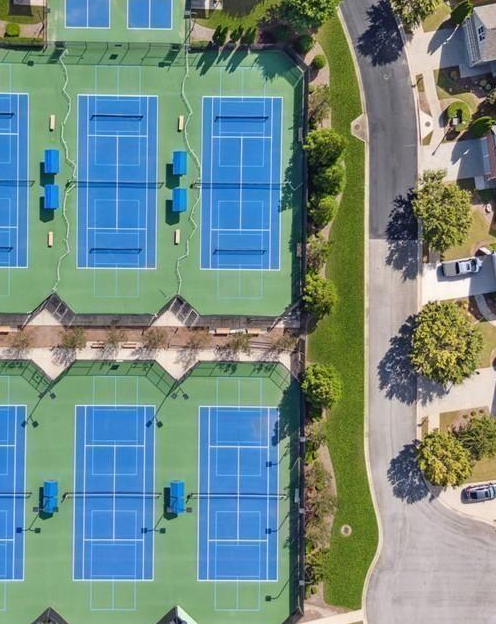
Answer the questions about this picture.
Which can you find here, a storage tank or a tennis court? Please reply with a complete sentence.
Of the two, only a tennis court appears.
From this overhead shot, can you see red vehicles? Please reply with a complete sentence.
No, the picture doesn't show any red vehicle.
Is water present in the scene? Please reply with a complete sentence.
No, no water is visible.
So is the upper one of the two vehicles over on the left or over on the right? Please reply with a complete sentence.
The upper one of the two vehicles is on the right side of the image.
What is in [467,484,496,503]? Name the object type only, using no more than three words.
car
